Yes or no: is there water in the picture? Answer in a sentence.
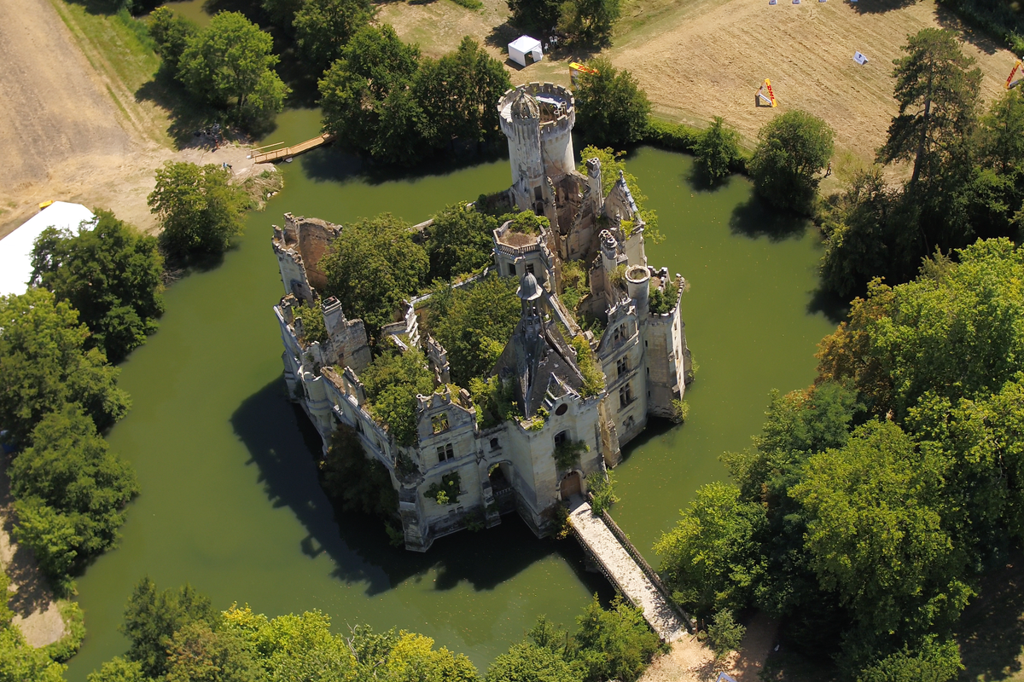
Yes, water shows up in the scene.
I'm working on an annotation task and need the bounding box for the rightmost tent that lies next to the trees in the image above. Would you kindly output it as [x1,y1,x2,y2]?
[508,36,542,66]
